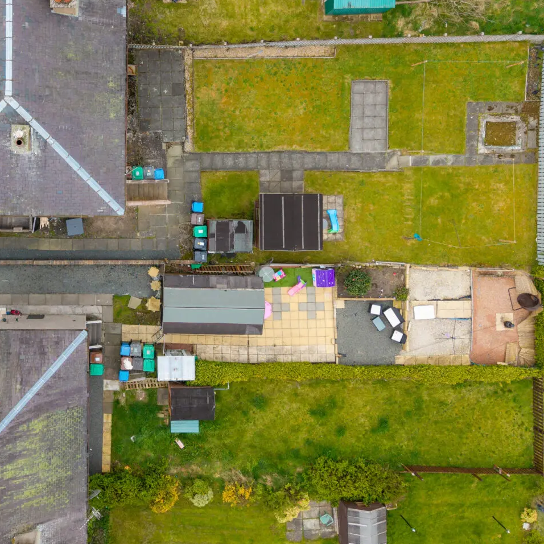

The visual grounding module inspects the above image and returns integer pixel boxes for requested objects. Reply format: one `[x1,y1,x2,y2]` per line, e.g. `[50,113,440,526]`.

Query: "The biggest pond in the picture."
[479,114,527,153]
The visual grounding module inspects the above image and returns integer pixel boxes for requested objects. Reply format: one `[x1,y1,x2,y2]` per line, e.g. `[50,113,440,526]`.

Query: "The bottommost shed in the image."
[339,496,388,544]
